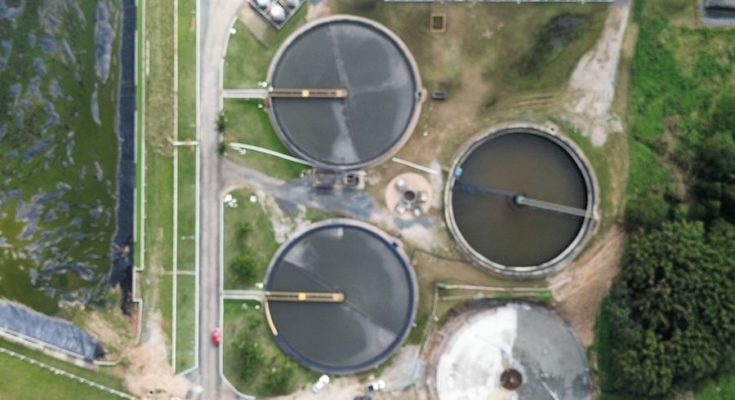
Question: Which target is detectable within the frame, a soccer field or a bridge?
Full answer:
Of the two, only a bridge appears.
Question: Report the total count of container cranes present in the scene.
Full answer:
The count of container cranes is 0.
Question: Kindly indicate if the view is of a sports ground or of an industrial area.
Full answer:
The area seen from above is an industrial area.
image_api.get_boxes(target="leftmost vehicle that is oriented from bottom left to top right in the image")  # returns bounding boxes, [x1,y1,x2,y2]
[311,374,329,395]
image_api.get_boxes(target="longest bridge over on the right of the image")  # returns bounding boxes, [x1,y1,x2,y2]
[452,187,604,220]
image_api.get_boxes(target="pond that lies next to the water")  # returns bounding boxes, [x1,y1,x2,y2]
[0,0,122,319]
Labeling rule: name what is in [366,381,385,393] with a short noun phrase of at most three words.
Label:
vehicle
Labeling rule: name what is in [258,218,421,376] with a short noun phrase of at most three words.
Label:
storage tank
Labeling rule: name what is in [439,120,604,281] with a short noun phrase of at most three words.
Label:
storage tank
